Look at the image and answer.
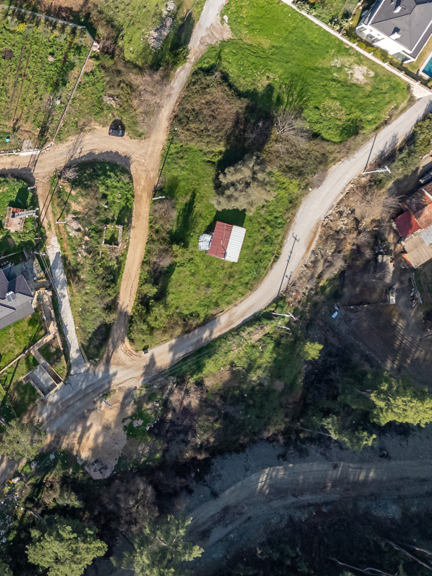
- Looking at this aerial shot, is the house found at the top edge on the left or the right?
right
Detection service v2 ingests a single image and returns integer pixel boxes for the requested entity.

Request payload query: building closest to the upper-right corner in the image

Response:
[355,0,432,71]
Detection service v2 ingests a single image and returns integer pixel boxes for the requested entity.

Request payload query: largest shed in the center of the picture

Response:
[205,221,247,262]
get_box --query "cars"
[418,172,432,186]
[109,128,125,137]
